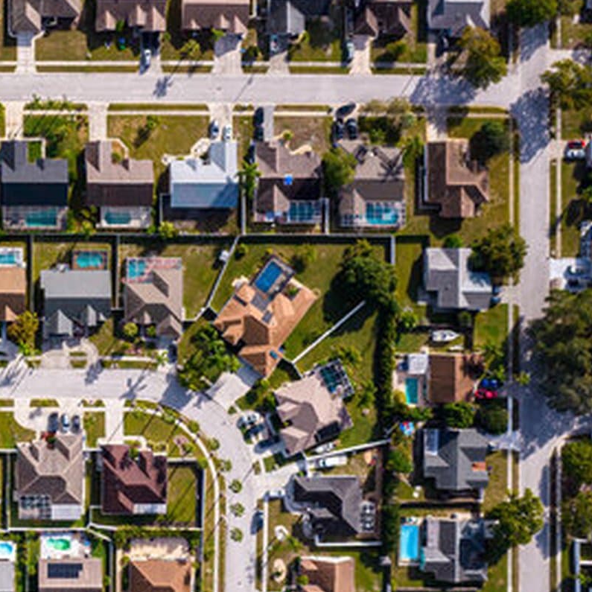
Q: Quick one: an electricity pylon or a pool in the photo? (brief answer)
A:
pool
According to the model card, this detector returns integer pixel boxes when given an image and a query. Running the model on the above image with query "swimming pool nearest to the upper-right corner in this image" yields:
[340,201,407,227]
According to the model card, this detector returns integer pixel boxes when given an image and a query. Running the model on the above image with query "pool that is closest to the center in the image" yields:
[250,242,298,294]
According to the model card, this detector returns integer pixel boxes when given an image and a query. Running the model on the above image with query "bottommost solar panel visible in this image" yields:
[48,564,80,582]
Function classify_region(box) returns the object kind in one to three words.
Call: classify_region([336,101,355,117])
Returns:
car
